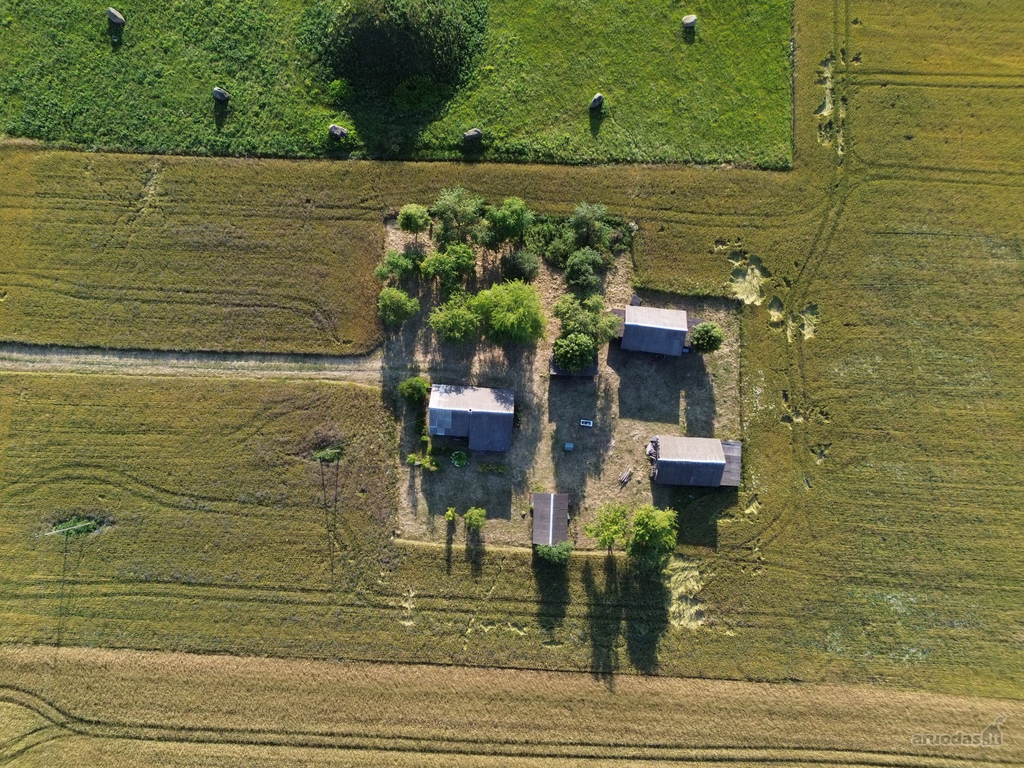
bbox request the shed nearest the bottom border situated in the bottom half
[531,491,570,546]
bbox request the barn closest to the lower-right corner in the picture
[651,435,741,487]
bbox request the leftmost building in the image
[428,384,515,457]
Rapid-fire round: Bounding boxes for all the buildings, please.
[608,305,697,354]
[548,340,599,378]
[531,491,570,546]
[428,384,515,457]
[651,435,741,487]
